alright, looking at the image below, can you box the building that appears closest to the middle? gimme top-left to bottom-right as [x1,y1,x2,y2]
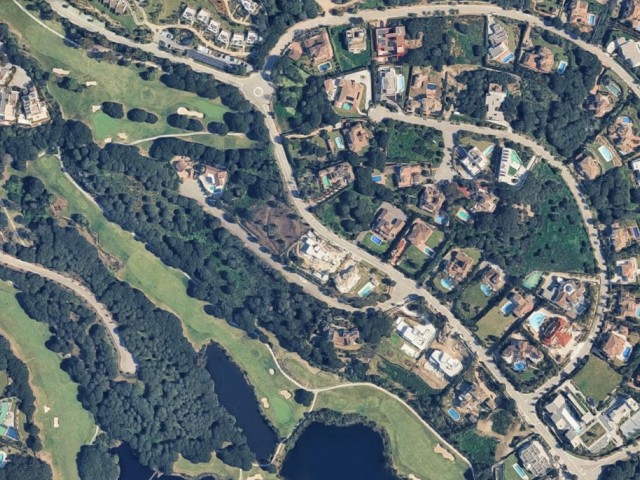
[306,232,345,268]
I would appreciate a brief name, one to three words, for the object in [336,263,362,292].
building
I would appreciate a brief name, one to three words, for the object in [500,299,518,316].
swimming pool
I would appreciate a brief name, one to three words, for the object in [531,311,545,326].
swimming pool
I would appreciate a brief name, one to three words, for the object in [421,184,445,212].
house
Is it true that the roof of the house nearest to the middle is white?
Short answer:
Yes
